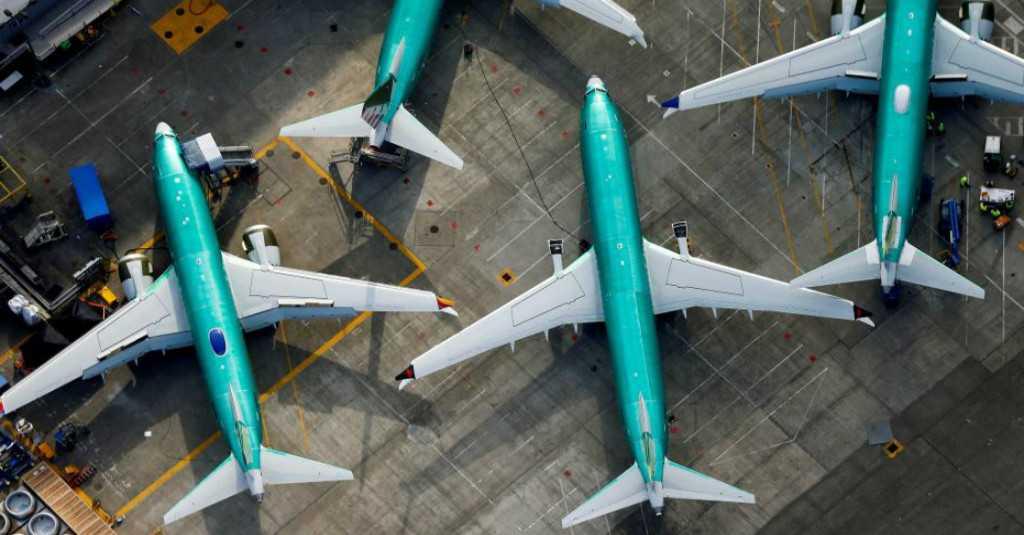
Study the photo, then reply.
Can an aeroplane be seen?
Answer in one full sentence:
Yes, looking at the shot, I can spot an aeroplane.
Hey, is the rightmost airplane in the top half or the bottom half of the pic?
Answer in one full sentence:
You can find the rightmost airplane in the top half.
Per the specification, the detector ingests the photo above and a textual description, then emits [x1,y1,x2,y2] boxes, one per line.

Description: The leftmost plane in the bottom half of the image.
[0,121,459,528]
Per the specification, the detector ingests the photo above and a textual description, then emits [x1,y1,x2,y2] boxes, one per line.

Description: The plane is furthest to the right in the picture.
[664,0,1024,301]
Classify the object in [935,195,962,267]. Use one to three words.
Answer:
work vehicle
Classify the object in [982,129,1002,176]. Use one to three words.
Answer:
vehicle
